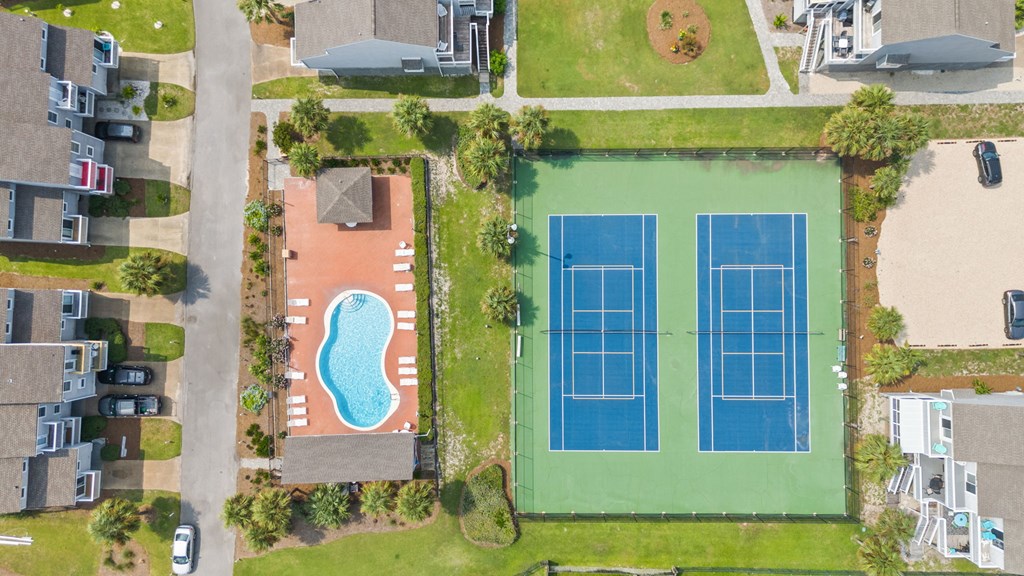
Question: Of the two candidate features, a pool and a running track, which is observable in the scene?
pool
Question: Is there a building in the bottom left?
Yes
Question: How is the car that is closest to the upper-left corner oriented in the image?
horizontally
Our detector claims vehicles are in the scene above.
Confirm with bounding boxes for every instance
[98,394,161,419]
[1003,290,1024,340]
[98,117,146,140]
[98,364,151,388]
[167,525,194,576]
[974,141,1005,187]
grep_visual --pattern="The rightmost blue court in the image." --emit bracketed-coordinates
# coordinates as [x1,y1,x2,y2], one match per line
[697,212,810,453]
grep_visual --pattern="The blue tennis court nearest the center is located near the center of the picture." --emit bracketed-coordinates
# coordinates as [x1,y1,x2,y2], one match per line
[548,214,660,452]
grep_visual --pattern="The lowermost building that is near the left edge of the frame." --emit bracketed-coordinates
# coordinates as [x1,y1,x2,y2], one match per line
[0,439,103,519]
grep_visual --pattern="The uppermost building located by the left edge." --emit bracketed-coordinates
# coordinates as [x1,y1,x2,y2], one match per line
[0,14,119,99]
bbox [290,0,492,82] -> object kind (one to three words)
house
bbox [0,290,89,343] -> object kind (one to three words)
house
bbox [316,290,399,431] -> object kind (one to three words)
swimming pool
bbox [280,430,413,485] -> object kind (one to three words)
building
